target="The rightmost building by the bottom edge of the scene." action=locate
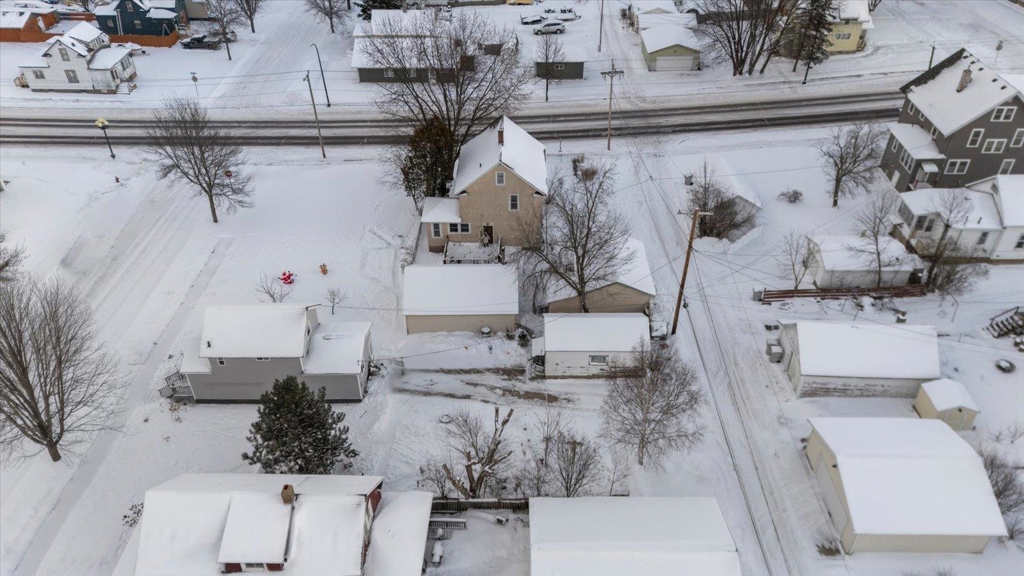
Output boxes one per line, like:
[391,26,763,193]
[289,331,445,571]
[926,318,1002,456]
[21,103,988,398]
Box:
[807,425,1003,555]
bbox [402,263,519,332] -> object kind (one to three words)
building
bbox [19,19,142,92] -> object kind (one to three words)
house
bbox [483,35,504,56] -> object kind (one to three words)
shed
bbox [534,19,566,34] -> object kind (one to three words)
car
